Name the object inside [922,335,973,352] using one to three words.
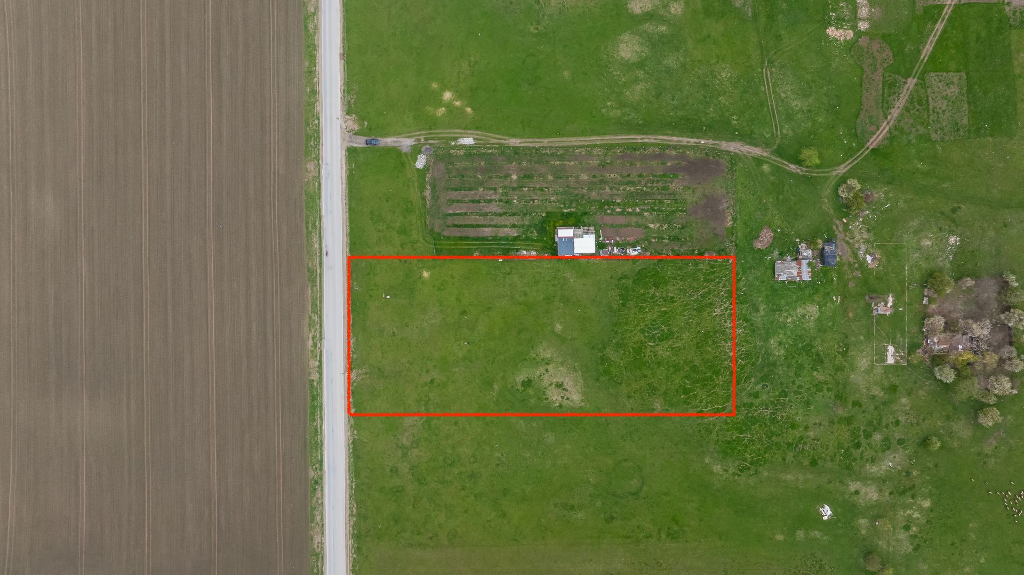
house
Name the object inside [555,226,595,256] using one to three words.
house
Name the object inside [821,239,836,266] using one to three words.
shed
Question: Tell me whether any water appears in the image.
No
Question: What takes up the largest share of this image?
grass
